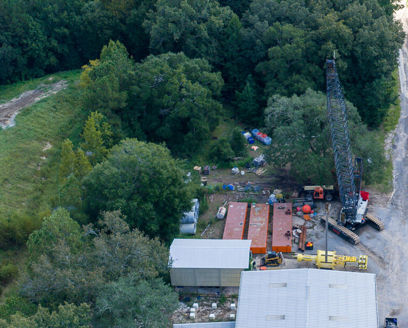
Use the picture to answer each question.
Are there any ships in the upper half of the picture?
No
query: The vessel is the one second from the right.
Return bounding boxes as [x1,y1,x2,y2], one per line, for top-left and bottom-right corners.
[248,203,268,254]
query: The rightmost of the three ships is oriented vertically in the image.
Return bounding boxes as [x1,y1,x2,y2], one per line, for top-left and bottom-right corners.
[273,203,292,253]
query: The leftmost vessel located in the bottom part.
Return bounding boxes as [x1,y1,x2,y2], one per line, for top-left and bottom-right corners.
[222,202,247,245]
